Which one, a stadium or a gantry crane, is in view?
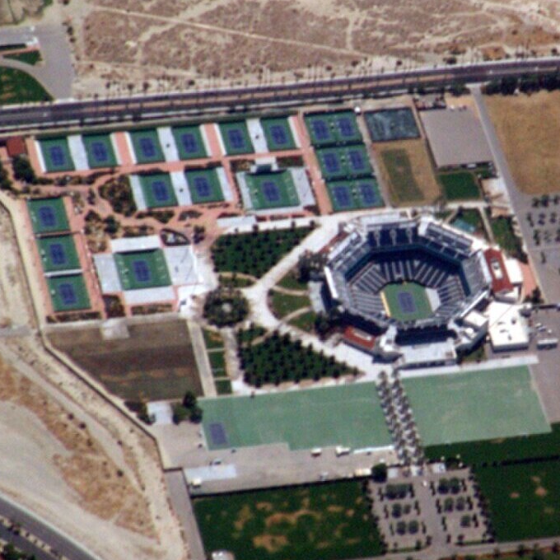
stadium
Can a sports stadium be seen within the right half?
Yes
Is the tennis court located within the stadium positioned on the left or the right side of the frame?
right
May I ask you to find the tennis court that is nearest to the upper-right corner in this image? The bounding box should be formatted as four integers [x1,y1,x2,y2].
[363,106,419,141]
